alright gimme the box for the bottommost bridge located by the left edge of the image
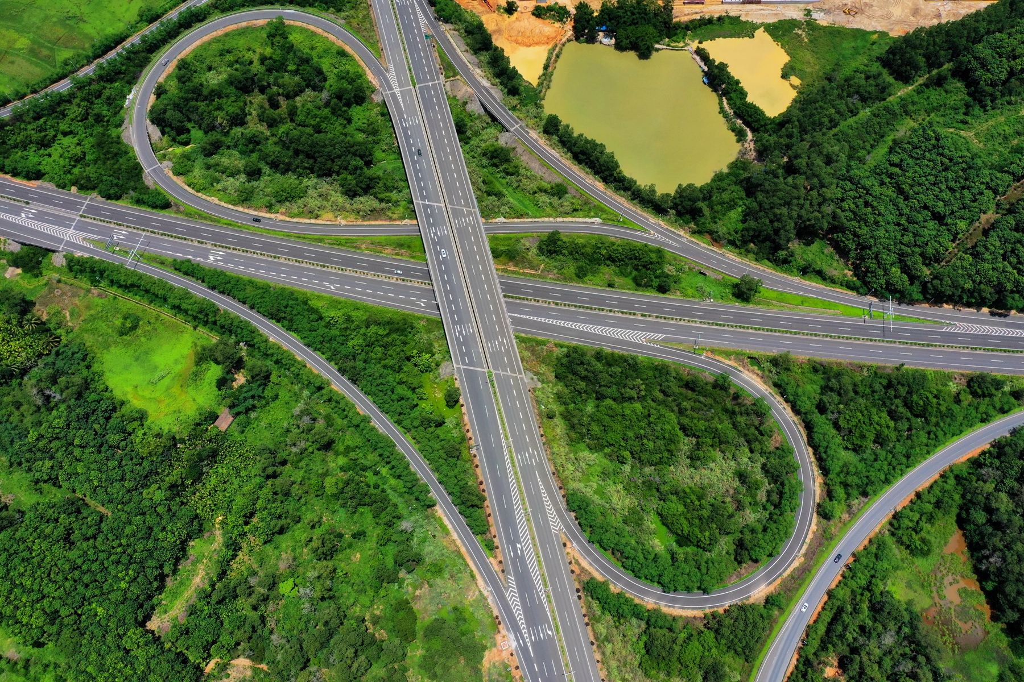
[17,186,89,250]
